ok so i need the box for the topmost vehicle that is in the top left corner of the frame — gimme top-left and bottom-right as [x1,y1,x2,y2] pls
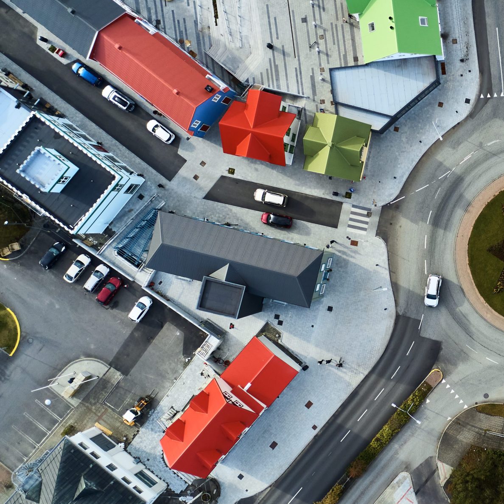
[74,63,102,86]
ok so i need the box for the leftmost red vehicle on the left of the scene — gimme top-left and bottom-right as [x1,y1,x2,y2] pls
[97,278,122,306]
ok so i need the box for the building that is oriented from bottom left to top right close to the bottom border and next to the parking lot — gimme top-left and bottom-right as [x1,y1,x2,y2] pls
[160,336,300,494]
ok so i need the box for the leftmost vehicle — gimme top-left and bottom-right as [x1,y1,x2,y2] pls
[40,242,67,270]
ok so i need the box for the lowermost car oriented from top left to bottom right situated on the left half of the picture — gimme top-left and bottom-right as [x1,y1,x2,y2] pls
[147,120,176,143]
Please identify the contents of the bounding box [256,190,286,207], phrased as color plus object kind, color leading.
white car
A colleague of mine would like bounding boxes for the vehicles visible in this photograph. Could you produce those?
[256,190,286,207]
[147,120,176,143]
[65,255,90,282]
[263,212,292,227]
[97,278,122,306]
[122,393,158,424]
[40,242,67,270]
[74,63,102,86]
[84,265,109,293]
[128,297,153,324]
[104,87,135,110]
[425,275,440,306]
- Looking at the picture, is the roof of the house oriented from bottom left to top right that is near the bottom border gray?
No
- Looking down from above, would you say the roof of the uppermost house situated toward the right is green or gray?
green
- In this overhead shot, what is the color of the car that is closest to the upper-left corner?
blue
